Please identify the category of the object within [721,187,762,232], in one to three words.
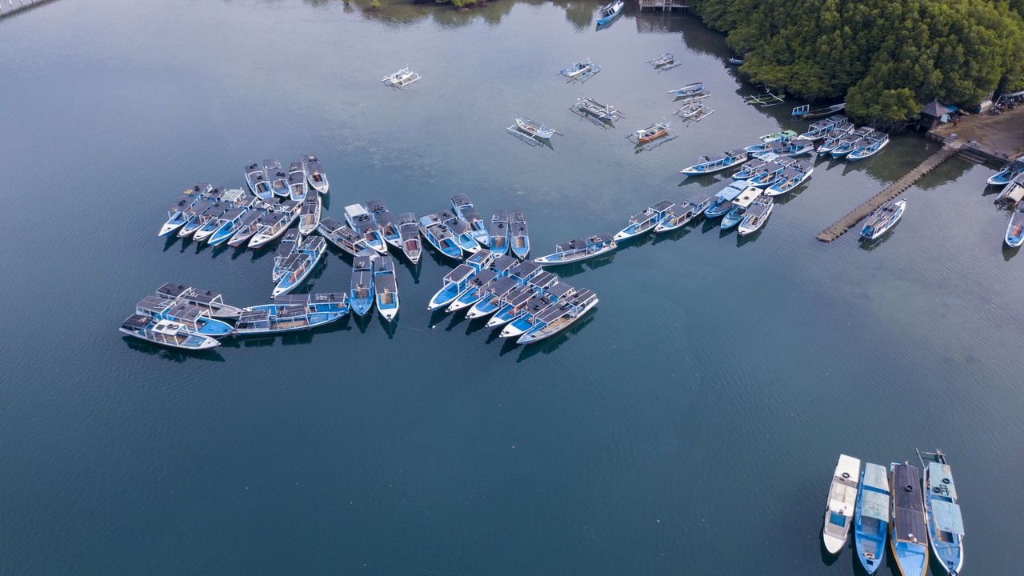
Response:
boat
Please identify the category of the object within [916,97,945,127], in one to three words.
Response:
shed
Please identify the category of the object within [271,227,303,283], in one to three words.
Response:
boat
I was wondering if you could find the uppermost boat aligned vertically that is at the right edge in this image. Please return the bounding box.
[1004,200,1024,250]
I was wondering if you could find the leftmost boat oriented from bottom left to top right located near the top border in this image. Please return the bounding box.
[597,0,625,26]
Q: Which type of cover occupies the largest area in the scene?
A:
water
